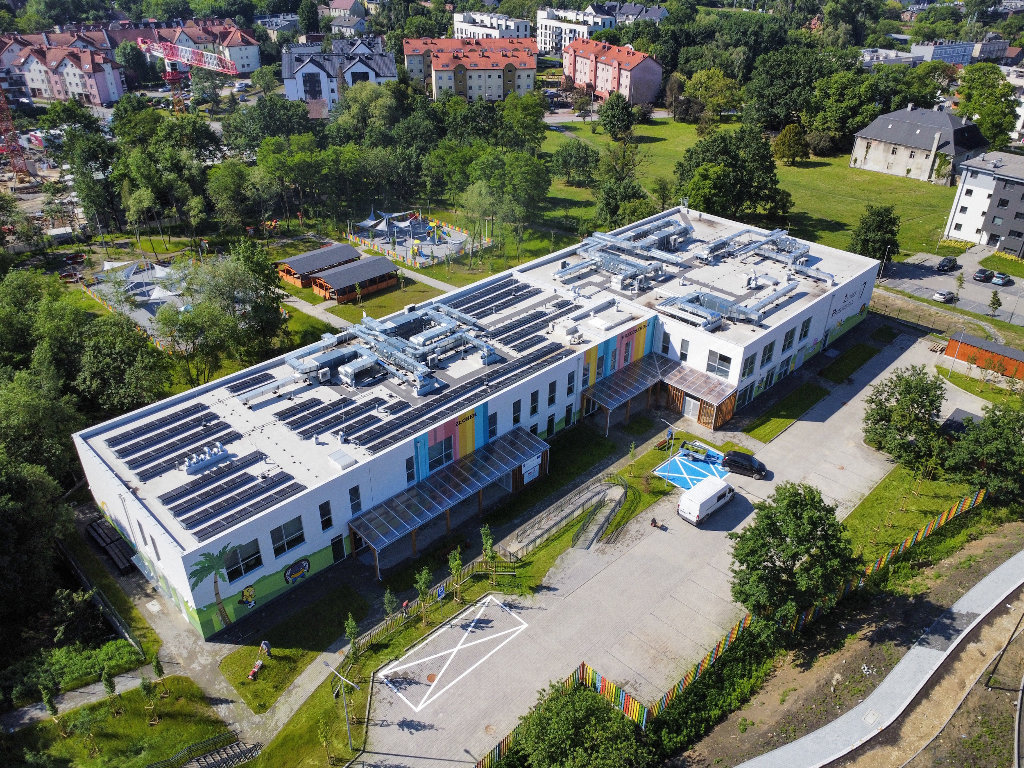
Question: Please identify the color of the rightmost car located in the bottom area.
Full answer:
The rightmost car located in the bottom area looks black in the image.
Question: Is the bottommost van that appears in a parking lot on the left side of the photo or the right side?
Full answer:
The bottommost van that appears in a parking lot appears in the right half of the scene.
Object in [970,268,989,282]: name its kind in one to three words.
car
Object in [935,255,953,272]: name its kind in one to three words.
car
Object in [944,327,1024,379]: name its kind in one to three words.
shed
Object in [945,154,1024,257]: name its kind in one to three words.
building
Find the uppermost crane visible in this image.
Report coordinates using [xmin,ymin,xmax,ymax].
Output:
[137,39,241,116]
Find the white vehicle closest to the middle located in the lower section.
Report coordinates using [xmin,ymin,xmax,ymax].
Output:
[678,477,733,524]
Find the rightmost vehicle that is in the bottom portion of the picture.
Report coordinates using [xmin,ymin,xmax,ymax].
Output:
[724,449,770,478]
